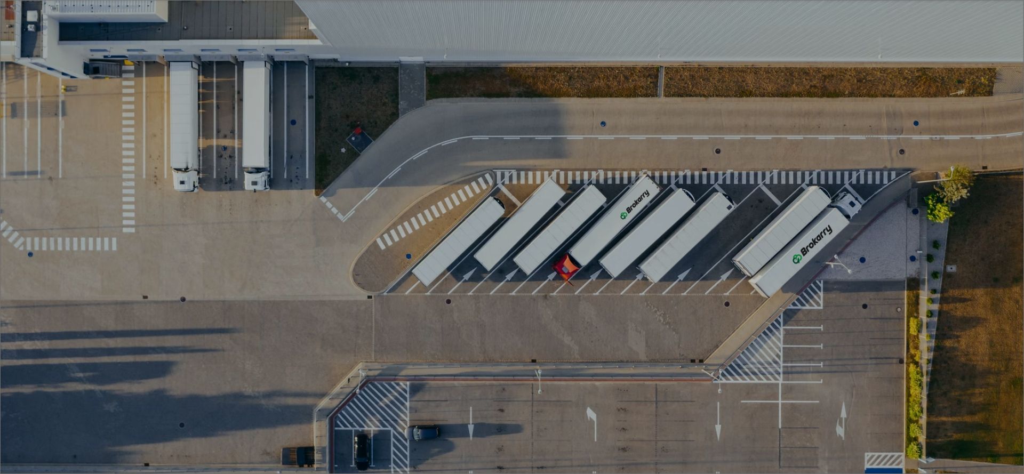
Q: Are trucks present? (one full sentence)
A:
Yes, I can see a truck in this picture.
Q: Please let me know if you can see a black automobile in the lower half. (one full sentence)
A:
Yes, you'll find a black automobile in the lower half.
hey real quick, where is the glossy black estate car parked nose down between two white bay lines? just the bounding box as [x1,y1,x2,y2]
[353,433,371,471]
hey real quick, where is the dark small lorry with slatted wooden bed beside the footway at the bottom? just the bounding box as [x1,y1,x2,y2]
[279,448,313,469]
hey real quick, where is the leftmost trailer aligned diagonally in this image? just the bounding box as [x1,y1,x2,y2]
[413,196,506,286]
